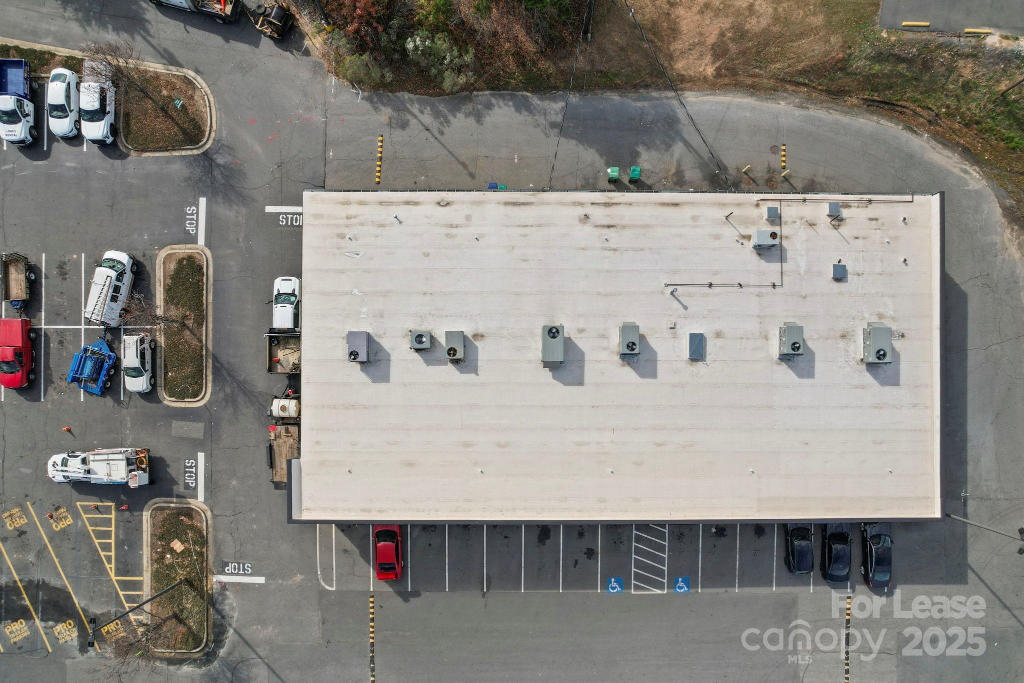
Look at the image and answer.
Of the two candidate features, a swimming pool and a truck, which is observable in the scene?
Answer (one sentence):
Visible in the photo is a truck.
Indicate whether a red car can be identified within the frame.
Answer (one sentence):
Yes, a red car can be made out from above.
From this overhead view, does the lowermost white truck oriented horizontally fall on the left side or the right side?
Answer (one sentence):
It is on the left.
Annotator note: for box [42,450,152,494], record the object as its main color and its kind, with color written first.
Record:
white truck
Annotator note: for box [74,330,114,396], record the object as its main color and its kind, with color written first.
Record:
blue trailer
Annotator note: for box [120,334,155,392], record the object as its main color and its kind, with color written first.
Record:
white car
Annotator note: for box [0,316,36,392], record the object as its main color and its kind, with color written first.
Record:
red truck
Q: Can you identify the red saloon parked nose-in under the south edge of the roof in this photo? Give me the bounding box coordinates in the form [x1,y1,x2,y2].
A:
[371,524,403,580]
